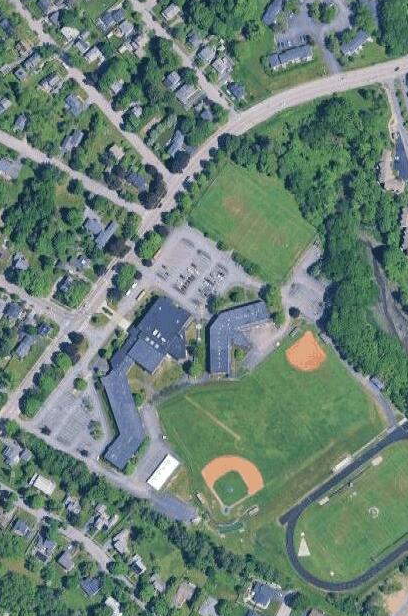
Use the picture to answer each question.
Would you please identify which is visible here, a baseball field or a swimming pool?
baseball field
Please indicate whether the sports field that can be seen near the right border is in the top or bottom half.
bottom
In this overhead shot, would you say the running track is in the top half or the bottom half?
bottom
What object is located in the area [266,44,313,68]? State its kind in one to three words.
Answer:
building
